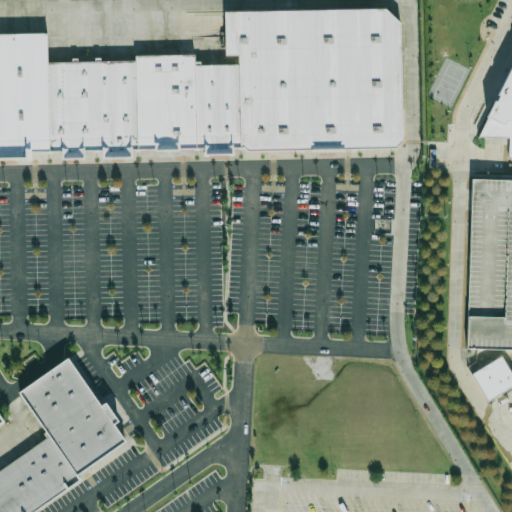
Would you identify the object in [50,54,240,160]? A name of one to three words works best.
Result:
building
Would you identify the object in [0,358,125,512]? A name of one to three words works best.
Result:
building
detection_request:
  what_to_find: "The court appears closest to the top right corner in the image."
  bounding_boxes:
[430,58,470,107]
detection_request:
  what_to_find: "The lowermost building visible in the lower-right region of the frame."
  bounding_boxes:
[472,356,512,402]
